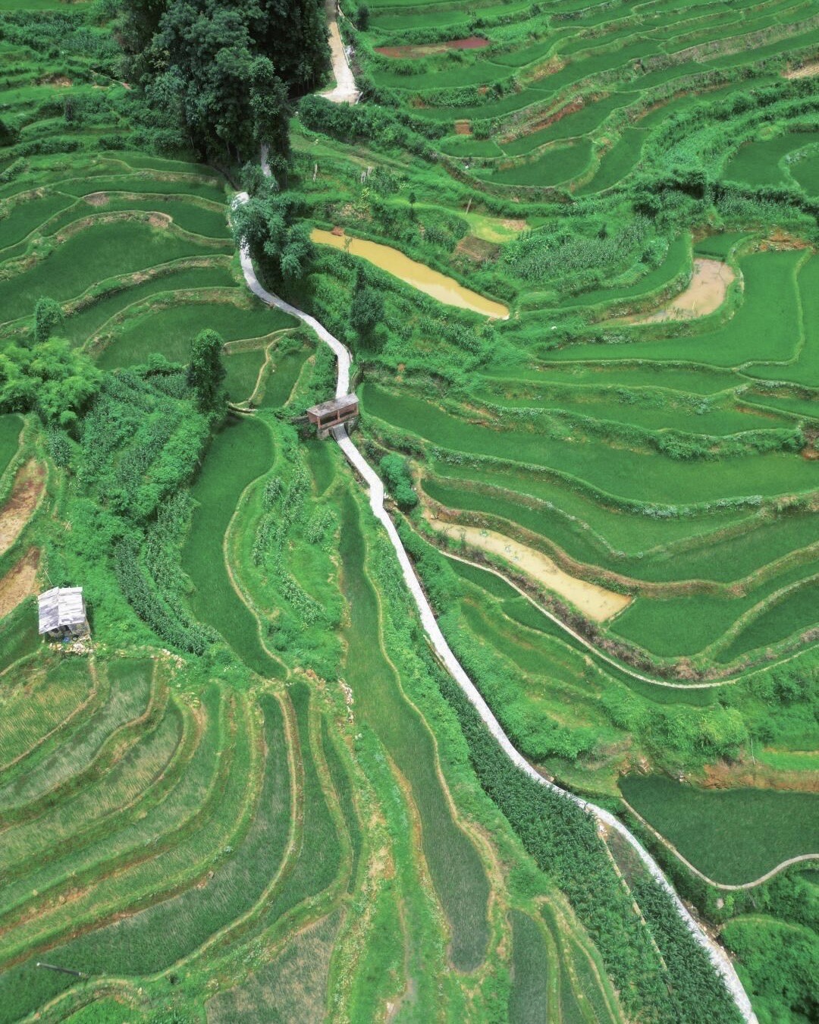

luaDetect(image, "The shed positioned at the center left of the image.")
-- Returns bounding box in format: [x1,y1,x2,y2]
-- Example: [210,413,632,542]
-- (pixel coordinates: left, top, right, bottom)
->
[37,586,91,641]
